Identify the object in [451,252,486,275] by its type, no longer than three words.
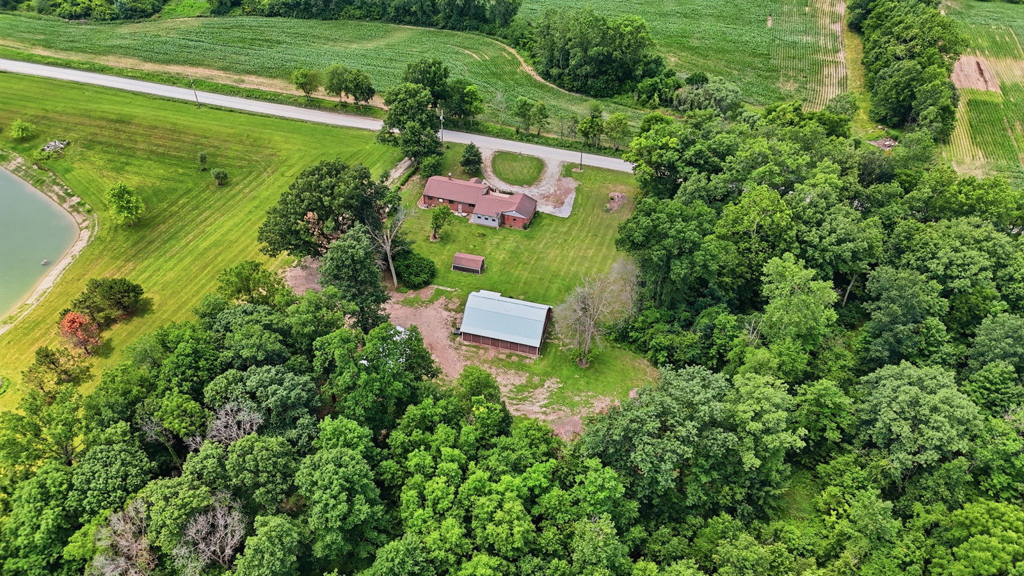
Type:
shed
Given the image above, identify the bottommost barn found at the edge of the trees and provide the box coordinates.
[460,289,552,356]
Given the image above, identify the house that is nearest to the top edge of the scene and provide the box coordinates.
[421,175,540,228]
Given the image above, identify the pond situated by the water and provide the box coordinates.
[0,165,80,320]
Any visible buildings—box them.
[451,252,486,275]
[421,175,540,228]
[460,289,552,356]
